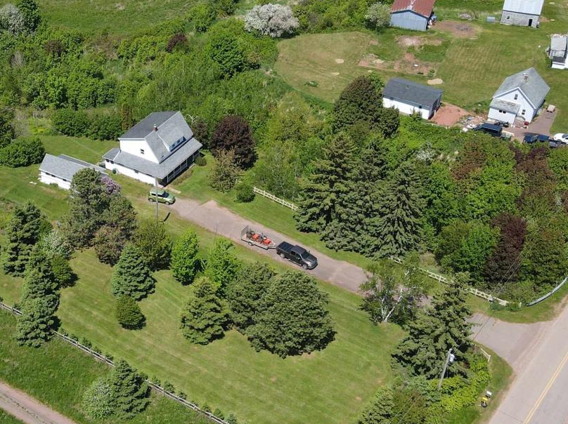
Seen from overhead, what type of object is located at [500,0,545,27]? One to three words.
barn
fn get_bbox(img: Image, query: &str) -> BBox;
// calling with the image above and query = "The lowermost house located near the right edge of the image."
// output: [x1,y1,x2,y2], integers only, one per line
[487,66,550,123]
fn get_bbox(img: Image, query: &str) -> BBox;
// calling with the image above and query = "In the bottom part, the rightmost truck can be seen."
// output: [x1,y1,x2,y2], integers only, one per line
[277,243,320,270]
